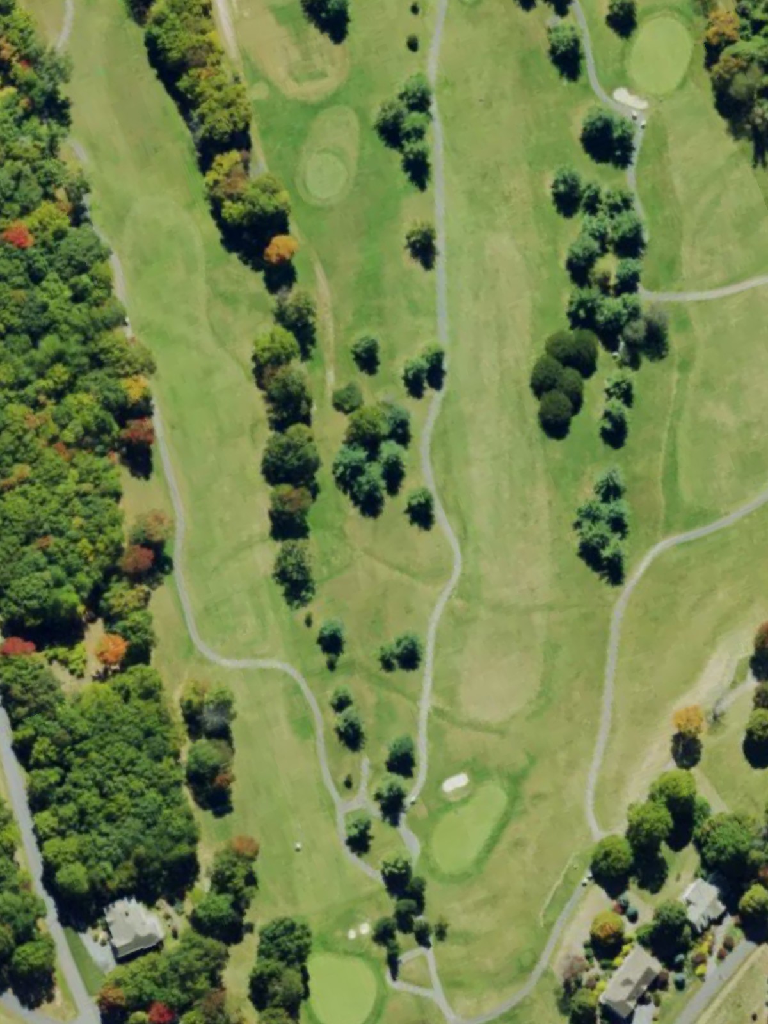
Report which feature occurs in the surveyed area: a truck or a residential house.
residential house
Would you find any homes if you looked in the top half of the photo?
No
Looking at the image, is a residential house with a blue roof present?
No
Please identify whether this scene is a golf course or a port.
golf course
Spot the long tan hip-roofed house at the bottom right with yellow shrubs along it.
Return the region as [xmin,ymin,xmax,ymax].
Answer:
[598,946,664,1018]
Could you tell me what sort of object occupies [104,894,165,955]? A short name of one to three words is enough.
house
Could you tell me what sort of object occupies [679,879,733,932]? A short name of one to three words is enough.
house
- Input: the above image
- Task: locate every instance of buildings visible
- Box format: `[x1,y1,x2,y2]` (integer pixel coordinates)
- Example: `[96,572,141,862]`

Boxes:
[104,894,165,955]
[679,879,733,932]
[598,946,664,1018]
